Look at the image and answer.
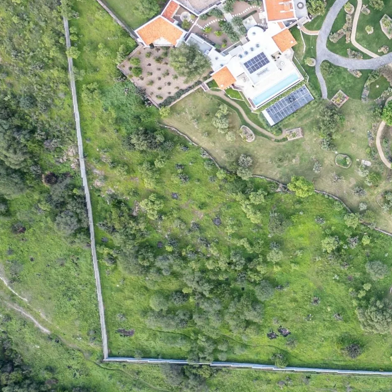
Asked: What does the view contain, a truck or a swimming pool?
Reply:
swimming pool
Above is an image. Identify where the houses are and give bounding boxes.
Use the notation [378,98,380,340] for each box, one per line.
[208,21,299,90]
[133,15,190,48]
